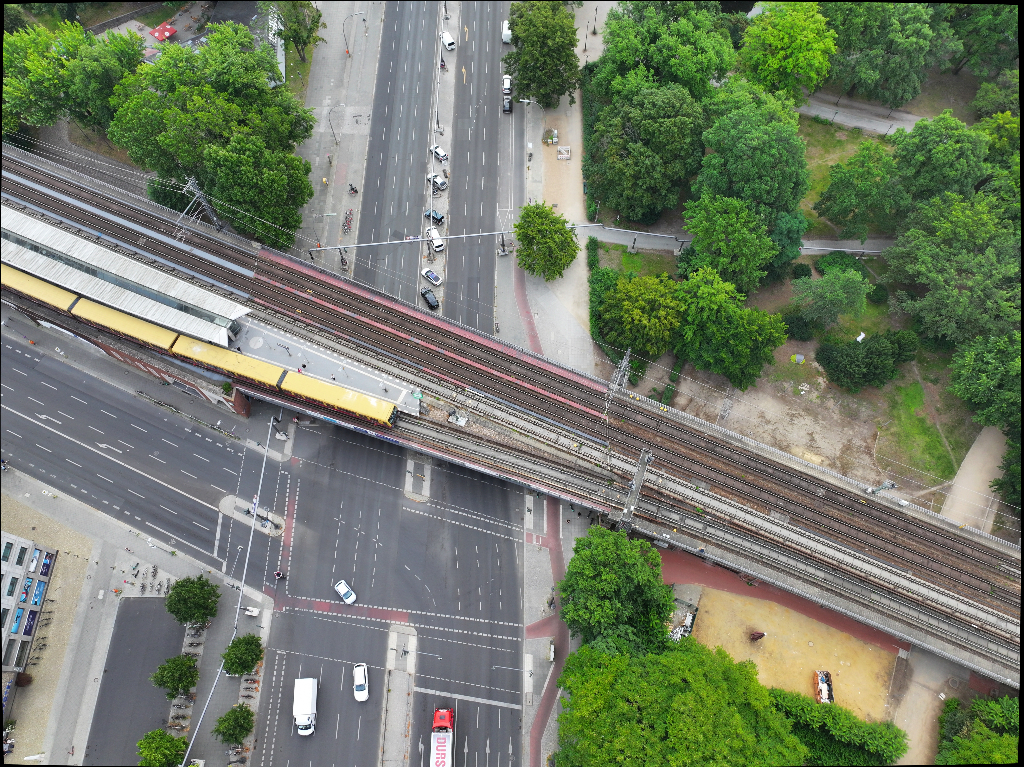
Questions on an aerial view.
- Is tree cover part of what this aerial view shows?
Yes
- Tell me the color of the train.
yellow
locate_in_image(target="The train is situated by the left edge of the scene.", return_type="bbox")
[0,264,398,429]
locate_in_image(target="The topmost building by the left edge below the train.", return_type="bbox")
[0,532,57,669]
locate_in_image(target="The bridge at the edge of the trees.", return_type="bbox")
[0,146,1024,690]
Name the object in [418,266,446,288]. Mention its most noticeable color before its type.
white car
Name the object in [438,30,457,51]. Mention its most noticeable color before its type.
white vehicle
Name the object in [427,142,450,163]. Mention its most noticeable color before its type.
white car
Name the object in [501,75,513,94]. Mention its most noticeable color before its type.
white vehicle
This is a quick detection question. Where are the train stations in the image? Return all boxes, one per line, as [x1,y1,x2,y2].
[0,205,420,418]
